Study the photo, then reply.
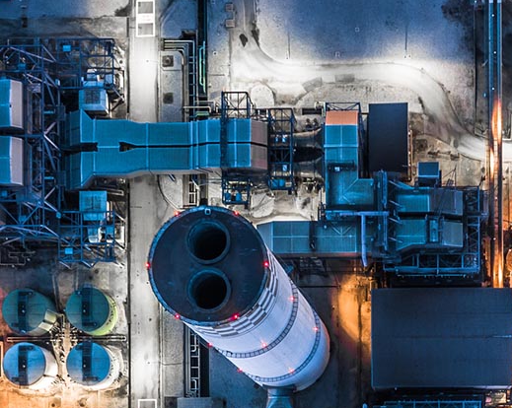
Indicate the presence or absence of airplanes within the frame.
No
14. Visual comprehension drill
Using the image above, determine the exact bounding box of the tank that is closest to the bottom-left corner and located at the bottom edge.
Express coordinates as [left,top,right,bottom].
[0,342,61,393]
